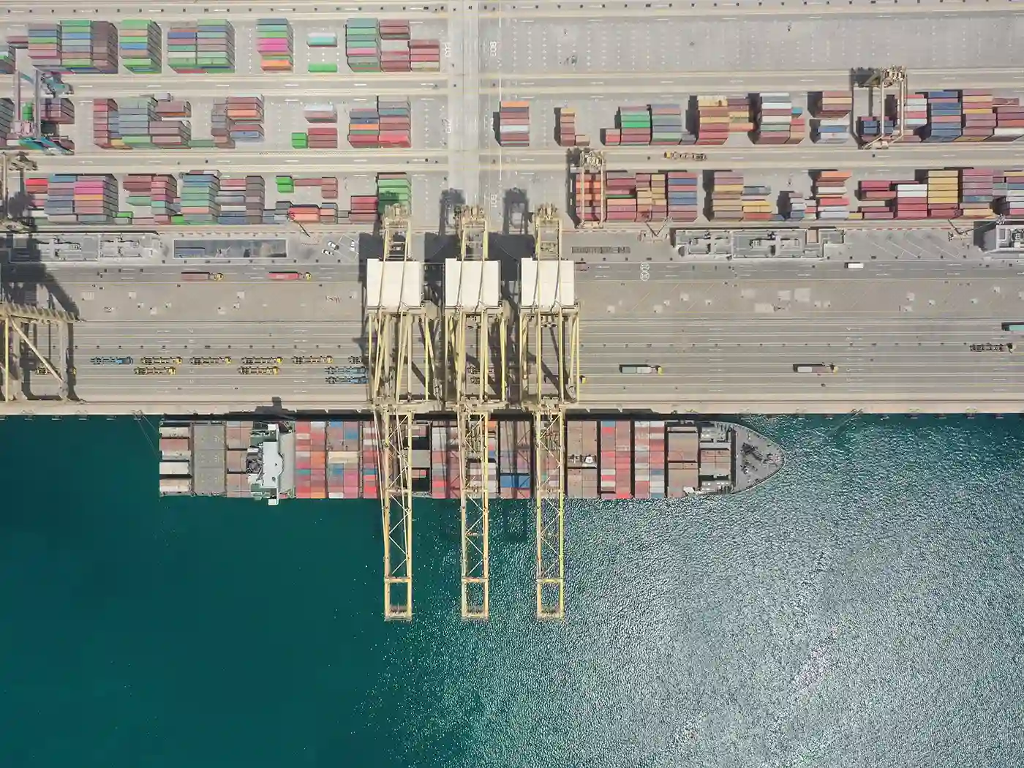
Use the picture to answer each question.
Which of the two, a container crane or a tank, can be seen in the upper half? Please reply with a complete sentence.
Looking in the upper half, you will find a container crane.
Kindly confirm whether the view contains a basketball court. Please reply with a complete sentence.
No, no basketball court can be seen from above.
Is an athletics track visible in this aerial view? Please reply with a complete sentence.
No, this view has no athletics track in it.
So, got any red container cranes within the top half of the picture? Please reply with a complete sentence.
No, I see no red container crane within the top half of the picture.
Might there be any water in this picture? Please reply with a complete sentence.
Yes, some water is visible.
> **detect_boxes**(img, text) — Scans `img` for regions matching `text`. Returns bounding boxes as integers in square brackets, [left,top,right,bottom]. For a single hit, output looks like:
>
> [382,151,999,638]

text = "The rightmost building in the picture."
[985,225,1024,253]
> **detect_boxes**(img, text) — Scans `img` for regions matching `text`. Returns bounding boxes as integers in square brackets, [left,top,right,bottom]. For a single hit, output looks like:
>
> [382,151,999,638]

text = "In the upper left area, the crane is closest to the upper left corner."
[14,74,68,153]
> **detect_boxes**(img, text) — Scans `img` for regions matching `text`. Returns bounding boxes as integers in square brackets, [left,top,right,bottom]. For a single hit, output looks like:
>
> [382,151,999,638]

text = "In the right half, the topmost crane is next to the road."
[859,67,905,150]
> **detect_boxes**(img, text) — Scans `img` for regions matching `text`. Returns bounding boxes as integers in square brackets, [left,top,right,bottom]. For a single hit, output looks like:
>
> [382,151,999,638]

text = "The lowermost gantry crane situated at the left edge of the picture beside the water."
[0,308,91,413]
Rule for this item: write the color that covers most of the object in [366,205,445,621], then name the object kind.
white container crane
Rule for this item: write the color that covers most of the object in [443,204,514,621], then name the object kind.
white container crane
